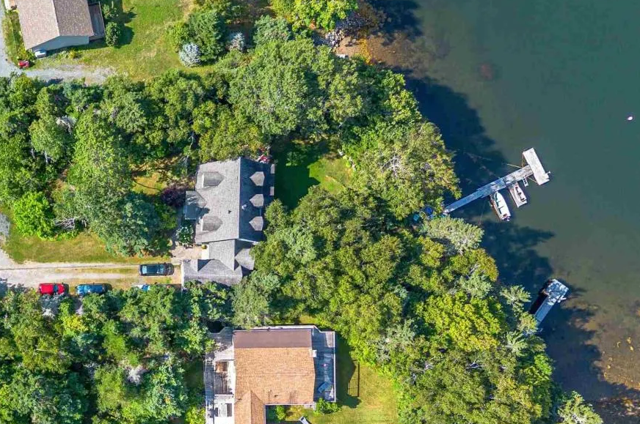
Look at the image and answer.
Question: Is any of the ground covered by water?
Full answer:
Yes, there's water in this view.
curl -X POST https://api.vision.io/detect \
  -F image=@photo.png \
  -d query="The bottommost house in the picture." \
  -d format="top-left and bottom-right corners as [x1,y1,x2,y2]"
[203,325,335,424]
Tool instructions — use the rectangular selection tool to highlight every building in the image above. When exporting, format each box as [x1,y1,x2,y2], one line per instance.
[180,152,275,298]
[2,0,108,52]
[203,325,335,424]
